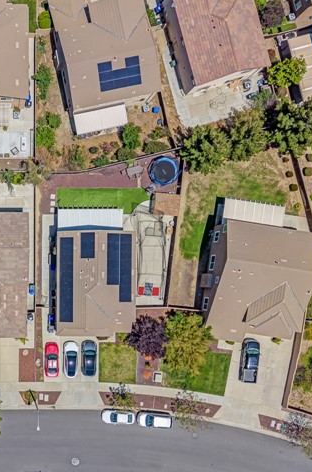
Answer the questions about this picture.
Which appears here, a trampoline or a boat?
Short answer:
trampoline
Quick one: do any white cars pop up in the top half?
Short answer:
No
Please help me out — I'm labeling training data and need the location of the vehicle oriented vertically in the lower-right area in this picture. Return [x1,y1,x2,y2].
[240,339,262,384]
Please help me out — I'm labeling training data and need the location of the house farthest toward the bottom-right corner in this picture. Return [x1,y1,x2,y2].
[200,196,312,348]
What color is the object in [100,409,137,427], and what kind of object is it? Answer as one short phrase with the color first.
white car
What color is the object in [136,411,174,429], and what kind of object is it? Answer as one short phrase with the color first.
white car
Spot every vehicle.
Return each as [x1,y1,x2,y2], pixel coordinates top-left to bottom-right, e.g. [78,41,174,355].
[240,339,262,384]
[43,341,61,378]
[100,409,137,427]
[136,411,174,429]
[81,340,98,377]
[62,341,80,378]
